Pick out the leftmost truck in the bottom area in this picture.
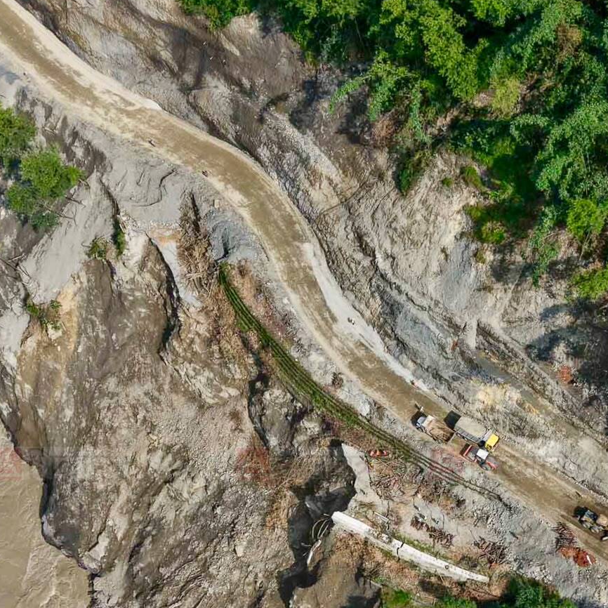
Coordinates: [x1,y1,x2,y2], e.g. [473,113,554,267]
[415,415,459,447]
